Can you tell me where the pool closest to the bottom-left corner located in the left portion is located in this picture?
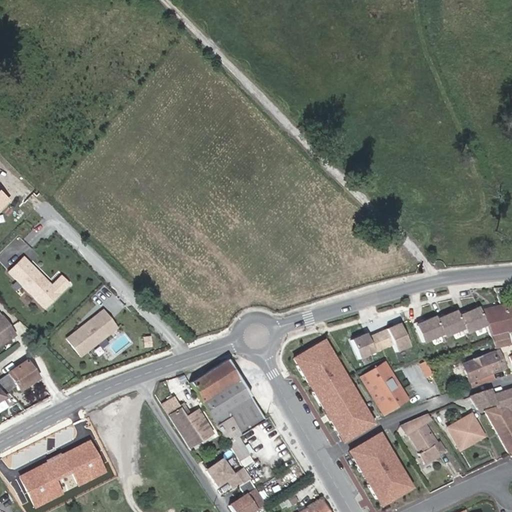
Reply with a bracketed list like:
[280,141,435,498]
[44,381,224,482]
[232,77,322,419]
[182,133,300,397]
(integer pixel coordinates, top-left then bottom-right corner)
[104,330,133,361]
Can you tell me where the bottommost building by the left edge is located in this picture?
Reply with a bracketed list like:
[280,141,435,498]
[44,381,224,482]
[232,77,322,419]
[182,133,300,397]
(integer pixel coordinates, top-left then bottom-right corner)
[18,438,107,509]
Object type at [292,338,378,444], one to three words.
building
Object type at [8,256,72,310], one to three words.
house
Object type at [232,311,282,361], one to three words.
roundabout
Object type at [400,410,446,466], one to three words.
house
